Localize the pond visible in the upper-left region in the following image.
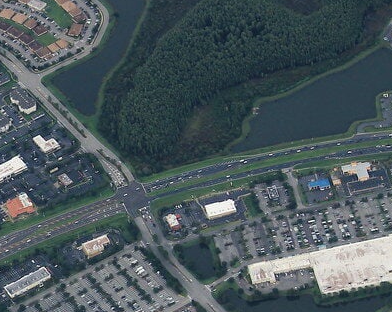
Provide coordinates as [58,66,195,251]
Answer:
[53,0,148,116]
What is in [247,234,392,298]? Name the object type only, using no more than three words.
building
